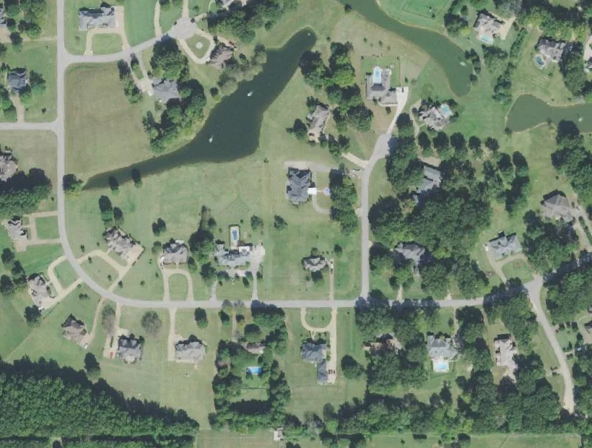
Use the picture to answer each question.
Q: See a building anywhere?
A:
Yes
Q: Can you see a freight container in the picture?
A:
No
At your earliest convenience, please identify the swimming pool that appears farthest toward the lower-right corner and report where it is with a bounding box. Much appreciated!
[433,359,449,372]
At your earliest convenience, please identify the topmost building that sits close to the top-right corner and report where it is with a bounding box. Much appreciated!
[472,11,505,41]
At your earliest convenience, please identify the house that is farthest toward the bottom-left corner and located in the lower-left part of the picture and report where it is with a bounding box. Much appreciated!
[59,316,87,345]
